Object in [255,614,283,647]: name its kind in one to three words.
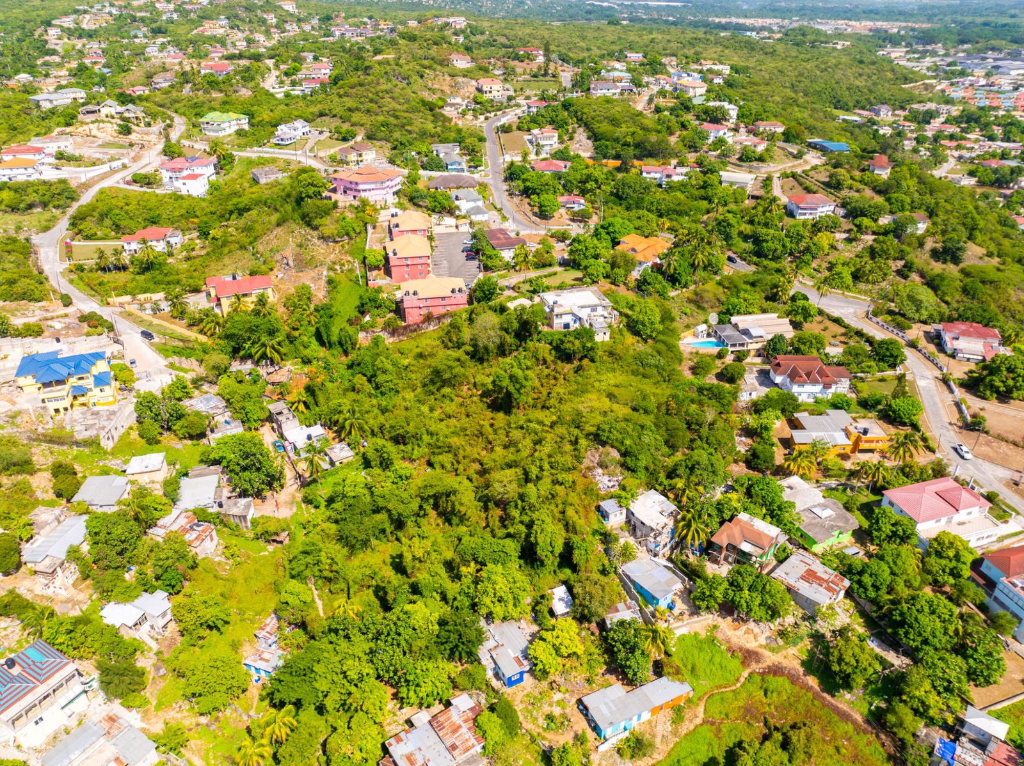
shed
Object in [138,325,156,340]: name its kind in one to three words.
car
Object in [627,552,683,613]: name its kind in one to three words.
house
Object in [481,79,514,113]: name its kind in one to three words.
house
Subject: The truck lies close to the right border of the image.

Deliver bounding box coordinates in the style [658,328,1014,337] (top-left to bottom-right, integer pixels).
[951,440,977,461]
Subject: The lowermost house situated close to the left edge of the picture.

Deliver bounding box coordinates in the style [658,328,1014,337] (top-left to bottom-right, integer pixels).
[49,715,158,766]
